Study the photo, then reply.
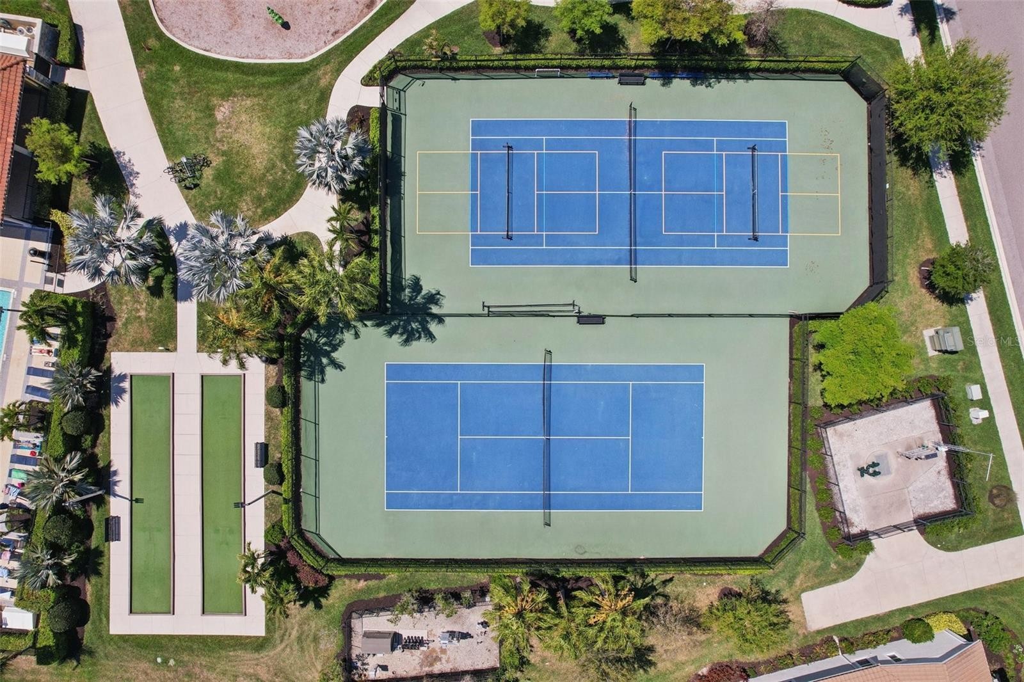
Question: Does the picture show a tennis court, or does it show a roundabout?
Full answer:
It is a tennis court that can be seen here.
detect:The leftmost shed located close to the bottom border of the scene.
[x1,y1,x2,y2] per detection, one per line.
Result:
[360,630,393,659]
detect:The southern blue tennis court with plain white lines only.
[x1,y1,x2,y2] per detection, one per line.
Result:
[301,315,791,559]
